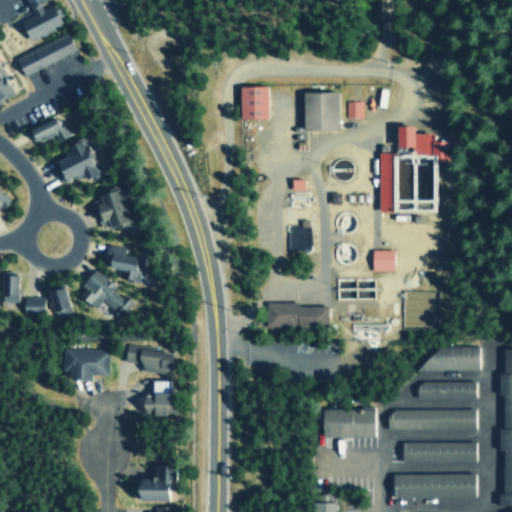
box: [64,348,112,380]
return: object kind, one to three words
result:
house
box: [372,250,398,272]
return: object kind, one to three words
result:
building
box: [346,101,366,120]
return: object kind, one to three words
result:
shed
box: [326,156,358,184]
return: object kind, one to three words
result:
storage tank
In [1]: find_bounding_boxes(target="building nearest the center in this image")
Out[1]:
[288,218,314,254]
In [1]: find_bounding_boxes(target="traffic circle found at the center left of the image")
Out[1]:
[37,222,74,258]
